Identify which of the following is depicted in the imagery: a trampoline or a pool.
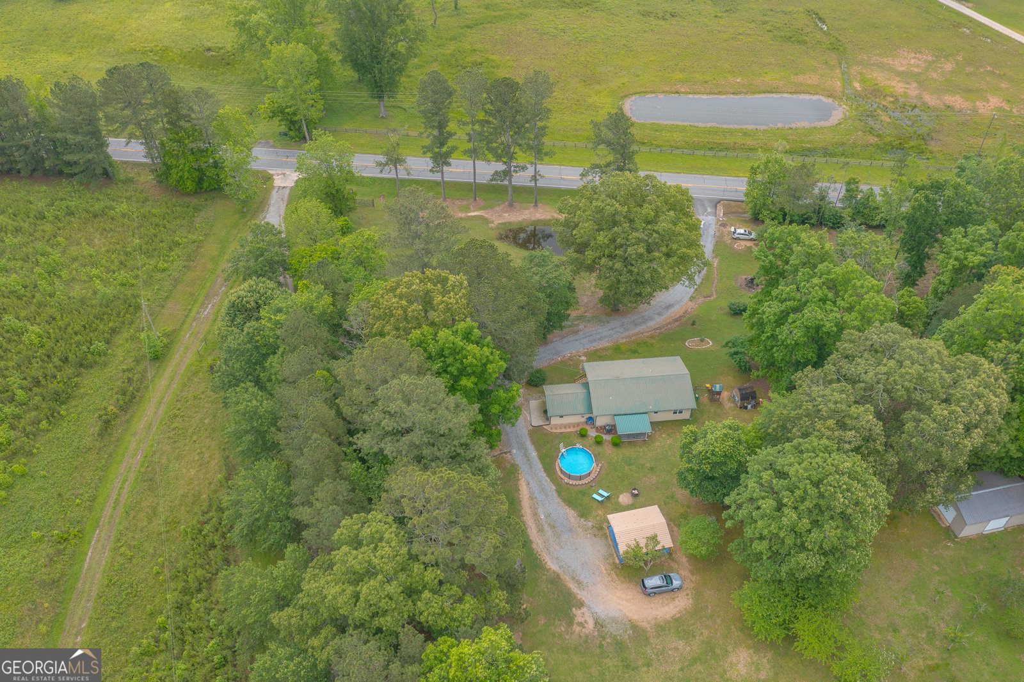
pool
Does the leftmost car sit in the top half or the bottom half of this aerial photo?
bottom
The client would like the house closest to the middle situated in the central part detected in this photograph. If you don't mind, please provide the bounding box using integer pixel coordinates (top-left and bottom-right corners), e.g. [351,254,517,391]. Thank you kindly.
[543,357,696,442]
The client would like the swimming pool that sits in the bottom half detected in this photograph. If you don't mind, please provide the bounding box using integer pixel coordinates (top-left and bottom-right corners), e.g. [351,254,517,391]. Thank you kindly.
[557,444,596,482]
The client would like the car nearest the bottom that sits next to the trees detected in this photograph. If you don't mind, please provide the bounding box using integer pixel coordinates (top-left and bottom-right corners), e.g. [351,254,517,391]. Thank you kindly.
[640,572,684,597]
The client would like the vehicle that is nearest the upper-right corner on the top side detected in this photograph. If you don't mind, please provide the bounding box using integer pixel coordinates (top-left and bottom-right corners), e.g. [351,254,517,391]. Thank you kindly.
[730,226,759,241]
